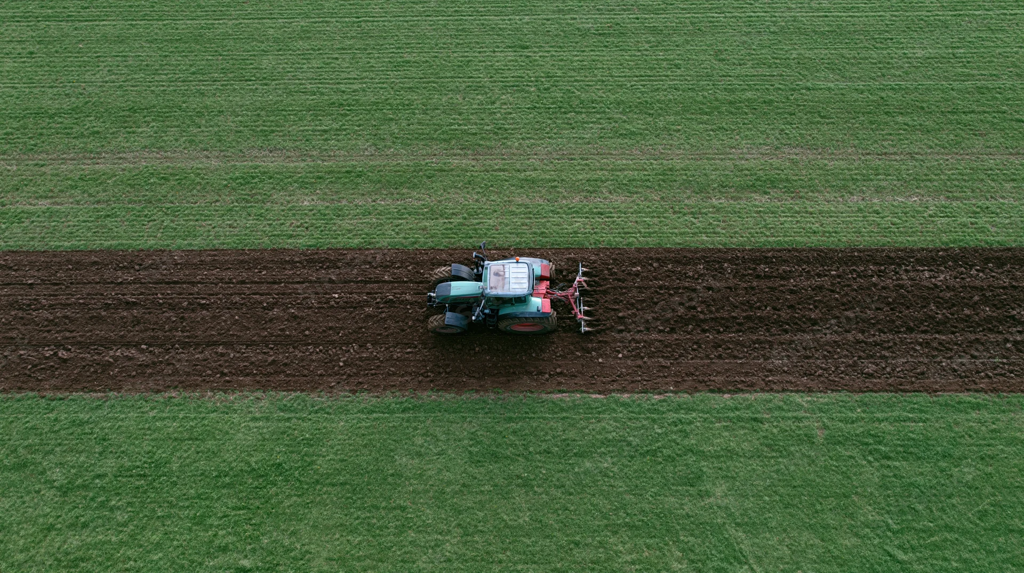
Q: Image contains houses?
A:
No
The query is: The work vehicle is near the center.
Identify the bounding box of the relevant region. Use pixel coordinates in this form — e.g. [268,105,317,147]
[427,240,556,335]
